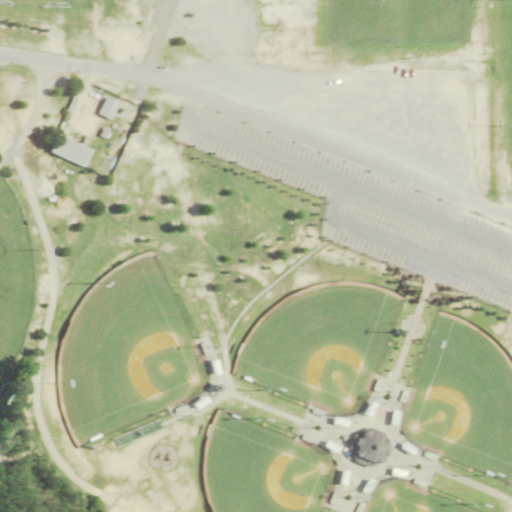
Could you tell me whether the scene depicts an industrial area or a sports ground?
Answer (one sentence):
The area seen from above is a sports ground.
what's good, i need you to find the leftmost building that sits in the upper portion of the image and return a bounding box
[52,140,94,172]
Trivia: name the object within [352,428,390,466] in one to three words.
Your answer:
building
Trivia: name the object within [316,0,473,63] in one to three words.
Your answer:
sports field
